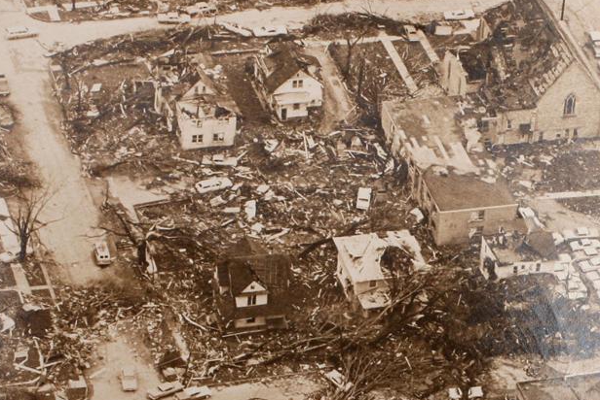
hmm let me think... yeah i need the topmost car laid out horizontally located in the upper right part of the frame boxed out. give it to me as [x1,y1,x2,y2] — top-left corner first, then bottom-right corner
[441,8,478,21]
